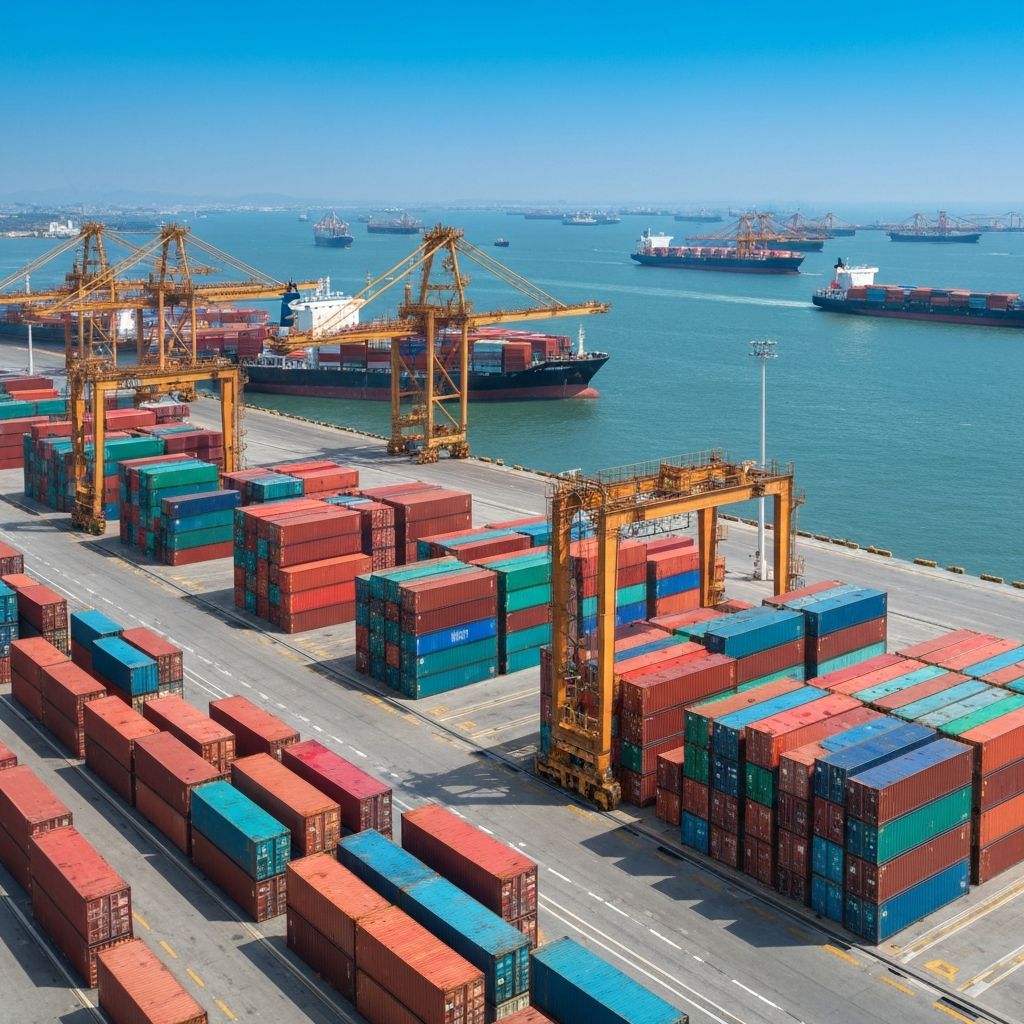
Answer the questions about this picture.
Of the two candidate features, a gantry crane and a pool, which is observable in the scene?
gantry crane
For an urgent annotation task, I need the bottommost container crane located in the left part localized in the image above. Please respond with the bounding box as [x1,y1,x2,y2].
[65,349,260,531]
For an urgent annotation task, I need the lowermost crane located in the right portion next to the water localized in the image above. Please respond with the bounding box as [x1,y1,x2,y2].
[529,439,810,804]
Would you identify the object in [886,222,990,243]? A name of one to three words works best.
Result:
ship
